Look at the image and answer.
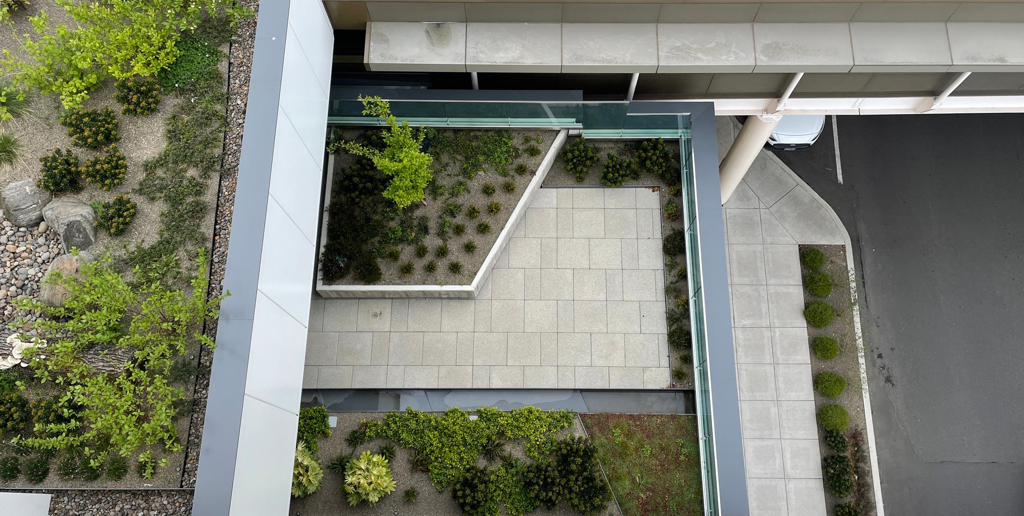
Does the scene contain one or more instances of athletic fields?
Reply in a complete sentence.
No, there's no athletic field here.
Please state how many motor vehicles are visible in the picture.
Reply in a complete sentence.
Just 1 motor vehicle appears in this view.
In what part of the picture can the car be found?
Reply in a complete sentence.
The car is located in the top right region of the scene.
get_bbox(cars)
[764,117,829,155]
